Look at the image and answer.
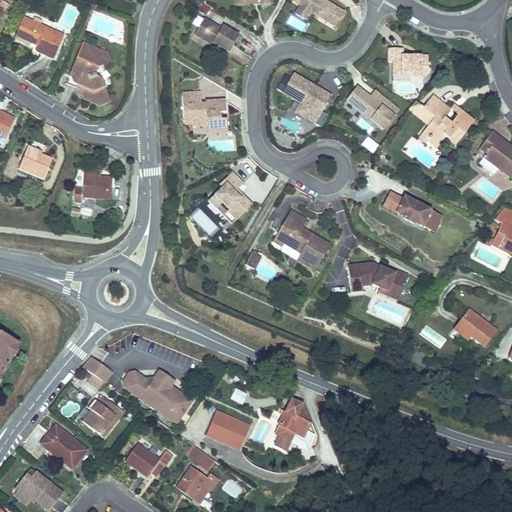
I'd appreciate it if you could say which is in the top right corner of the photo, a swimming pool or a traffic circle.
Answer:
swimming pool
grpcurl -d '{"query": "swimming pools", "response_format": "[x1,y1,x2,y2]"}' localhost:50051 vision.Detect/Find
[250,410,288,454]
[470,241,512,272]
[393,70,432,100]
[60,400,80,418]
[58,4,80,34]
[356,118,378,134]
[470,176,502,204]
[86,10,124,44]
[366,294,411,328]
[402,137,439,169]
[285,14,310,34]
[204,128,236,152]
[254,256,283,282]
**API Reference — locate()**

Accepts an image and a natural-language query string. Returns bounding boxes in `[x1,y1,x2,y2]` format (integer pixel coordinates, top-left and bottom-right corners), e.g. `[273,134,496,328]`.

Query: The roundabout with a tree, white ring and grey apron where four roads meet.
[81,258,152,328]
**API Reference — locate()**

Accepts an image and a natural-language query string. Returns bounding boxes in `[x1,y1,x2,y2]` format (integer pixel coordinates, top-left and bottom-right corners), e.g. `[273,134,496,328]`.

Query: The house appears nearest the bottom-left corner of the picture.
[14,468,68,512]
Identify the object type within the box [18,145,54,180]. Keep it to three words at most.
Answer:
house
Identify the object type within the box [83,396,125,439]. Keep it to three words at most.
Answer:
house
